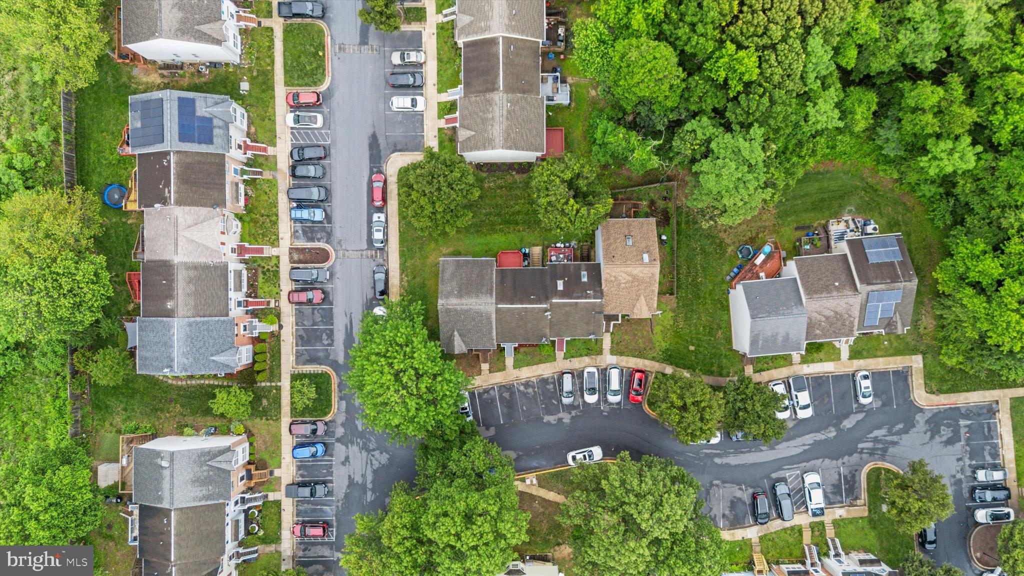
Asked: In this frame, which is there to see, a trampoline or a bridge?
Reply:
trampoline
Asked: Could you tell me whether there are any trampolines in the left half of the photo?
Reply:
Yes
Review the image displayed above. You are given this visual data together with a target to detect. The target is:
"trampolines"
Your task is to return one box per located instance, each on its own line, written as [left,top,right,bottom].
[736,244,758,260]
[96,183,127,207]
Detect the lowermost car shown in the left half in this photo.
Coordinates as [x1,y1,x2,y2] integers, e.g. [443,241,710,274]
[293,521,330,539]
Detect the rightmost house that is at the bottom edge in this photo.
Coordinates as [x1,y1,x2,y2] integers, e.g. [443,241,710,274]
[821,538,900,576]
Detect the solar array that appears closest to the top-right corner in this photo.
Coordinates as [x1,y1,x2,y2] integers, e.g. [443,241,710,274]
[863,236,903,262]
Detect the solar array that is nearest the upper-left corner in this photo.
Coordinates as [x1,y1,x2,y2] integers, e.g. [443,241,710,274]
[130,99,162,146]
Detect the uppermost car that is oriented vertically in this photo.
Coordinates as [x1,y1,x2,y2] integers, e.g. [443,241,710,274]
[370,173,387,208]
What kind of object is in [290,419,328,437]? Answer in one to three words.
car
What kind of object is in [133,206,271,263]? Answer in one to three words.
house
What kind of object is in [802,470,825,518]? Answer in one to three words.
truck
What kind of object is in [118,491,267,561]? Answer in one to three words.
house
